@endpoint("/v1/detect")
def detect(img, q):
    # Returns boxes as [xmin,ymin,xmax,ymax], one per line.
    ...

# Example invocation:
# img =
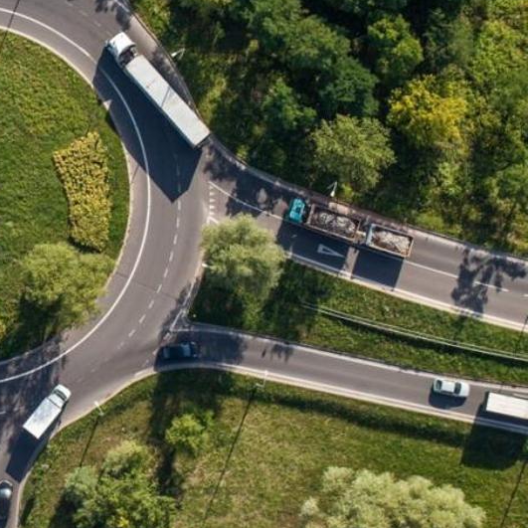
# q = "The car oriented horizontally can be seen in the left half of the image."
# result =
[159,344,196,360]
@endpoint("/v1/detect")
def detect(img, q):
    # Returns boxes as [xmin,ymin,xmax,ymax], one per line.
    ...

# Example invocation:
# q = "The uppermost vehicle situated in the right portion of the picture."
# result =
[289,197,414,256]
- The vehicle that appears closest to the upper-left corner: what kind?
truck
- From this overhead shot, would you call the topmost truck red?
No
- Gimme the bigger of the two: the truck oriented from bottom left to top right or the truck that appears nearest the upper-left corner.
the truck that appears nearest the upper-left corner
